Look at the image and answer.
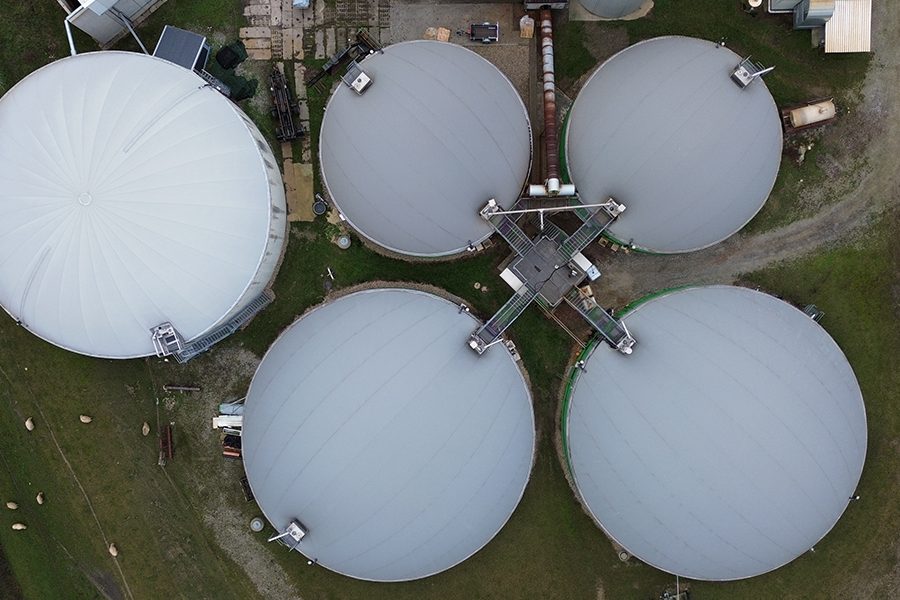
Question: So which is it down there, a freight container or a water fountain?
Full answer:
I can see a freight container in this picture.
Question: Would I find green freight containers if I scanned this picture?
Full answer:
No, I find no green freight container anywhere in the image.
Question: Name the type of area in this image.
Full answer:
The area seen from above is an industrial area.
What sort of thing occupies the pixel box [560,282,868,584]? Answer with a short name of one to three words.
storage tank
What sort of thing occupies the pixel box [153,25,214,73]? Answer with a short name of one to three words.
shed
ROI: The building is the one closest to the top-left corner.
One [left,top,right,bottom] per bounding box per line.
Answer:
[57,0,173,51]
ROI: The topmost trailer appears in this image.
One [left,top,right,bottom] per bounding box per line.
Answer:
[457,20,498,45]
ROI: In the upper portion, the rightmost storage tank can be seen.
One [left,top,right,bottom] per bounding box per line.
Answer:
[778,98,837,135]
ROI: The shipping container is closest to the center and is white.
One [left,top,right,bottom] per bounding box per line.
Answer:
[497,267,525,293]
